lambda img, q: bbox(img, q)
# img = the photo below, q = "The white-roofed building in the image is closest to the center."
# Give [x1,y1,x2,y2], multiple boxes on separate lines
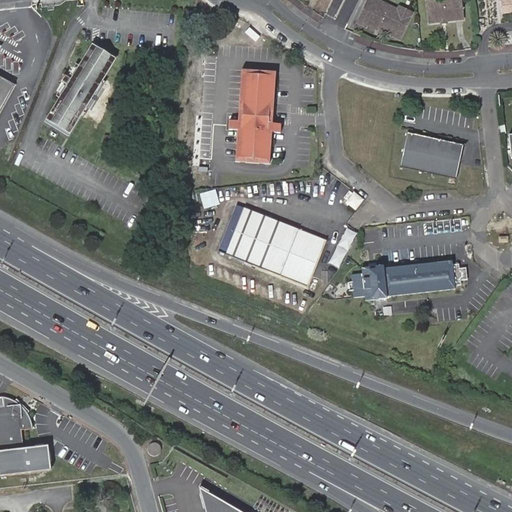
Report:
[219,204,327,289]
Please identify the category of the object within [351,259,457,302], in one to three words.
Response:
building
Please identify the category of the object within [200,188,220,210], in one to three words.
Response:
shed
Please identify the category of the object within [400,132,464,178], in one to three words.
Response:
building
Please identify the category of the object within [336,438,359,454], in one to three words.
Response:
vehicle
